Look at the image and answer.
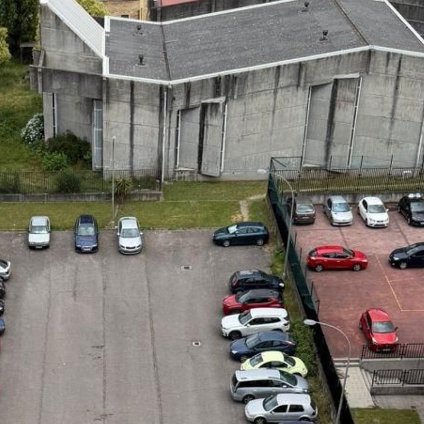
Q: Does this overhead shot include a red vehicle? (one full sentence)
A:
Yes, looking at the shot, I can spot a red vehicle.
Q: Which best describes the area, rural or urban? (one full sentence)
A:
From above, the setting appears urban.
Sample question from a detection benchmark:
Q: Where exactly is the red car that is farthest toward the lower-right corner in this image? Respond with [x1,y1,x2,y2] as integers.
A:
[350,305,395,347]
